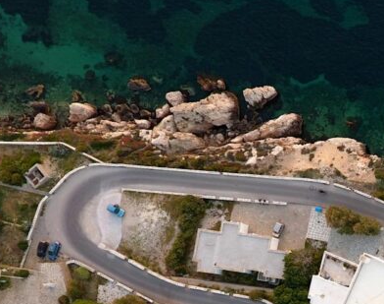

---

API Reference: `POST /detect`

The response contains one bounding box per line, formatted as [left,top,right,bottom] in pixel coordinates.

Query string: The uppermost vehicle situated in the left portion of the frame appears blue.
[105,203,128,219]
